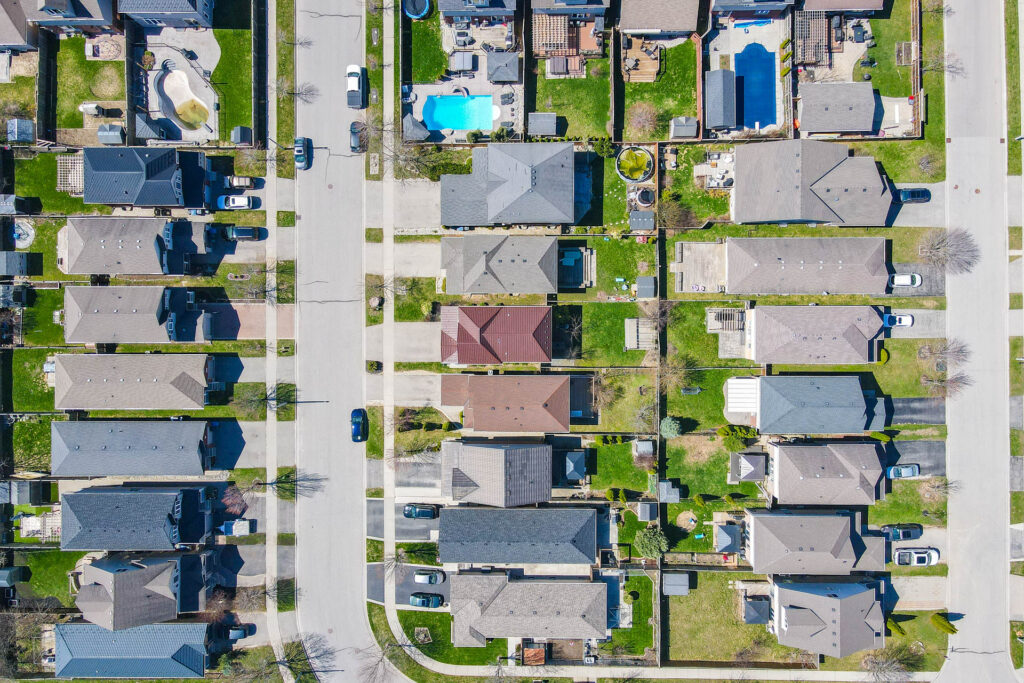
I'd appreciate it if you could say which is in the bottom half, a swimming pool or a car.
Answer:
car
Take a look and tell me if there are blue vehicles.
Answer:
Yes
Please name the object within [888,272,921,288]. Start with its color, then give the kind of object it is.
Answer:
white vehicle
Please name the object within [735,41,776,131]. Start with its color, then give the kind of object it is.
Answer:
blue swimming pool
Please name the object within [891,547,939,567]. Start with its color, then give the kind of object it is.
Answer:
white vehicle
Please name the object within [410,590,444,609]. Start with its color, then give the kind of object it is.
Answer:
blue car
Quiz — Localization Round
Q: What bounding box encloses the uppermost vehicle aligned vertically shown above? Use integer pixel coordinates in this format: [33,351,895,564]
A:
[346,65,364,109]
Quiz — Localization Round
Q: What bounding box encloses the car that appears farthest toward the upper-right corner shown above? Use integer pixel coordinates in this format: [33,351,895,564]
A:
[896,187,930,204]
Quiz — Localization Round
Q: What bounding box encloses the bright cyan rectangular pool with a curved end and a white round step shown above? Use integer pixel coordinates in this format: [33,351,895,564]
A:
[421,94,504,131]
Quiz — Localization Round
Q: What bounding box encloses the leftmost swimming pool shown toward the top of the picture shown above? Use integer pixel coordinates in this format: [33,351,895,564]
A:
[152,57,210,131]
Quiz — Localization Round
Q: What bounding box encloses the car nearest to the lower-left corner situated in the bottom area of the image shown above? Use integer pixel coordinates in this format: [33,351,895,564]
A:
[227,624,252,642]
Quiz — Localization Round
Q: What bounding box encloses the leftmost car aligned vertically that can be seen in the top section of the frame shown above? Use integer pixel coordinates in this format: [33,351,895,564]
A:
[294,137,309,170]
